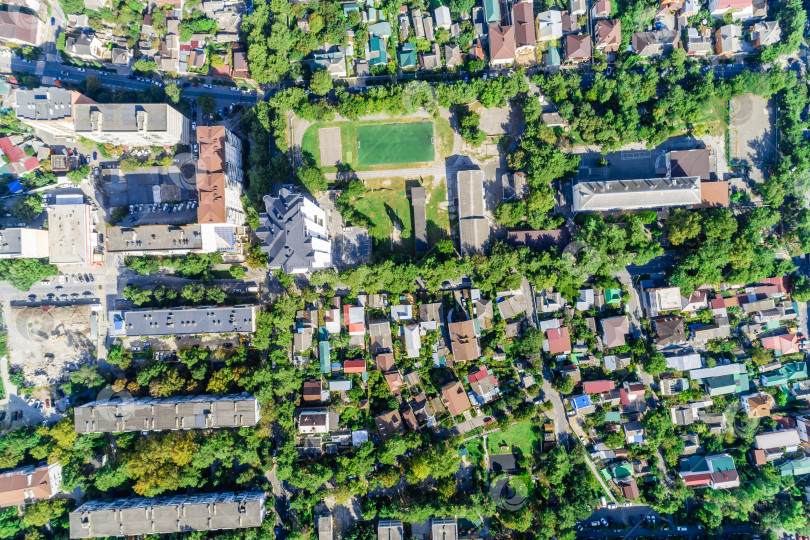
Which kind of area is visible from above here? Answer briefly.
residential area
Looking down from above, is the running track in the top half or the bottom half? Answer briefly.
top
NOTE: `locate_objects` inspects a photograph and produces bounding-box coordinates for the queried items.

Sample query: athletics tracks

[292,108,464,182]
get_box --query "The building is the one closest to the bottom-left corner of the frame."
[0,459,65,504]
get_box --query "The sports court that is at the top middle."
[319,127,342,166]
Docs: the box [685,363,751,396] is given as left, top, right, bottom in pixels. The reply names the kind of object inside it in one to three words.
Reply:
house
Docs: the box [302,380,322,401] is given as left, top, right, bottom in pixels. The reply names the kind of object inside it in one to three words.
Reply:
house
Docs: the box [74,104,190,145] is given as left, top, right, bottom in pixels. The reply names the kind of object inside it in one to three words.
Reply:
building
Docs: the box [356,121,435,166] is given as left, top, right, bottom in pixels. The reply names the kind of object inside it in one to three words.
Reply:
soccer field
